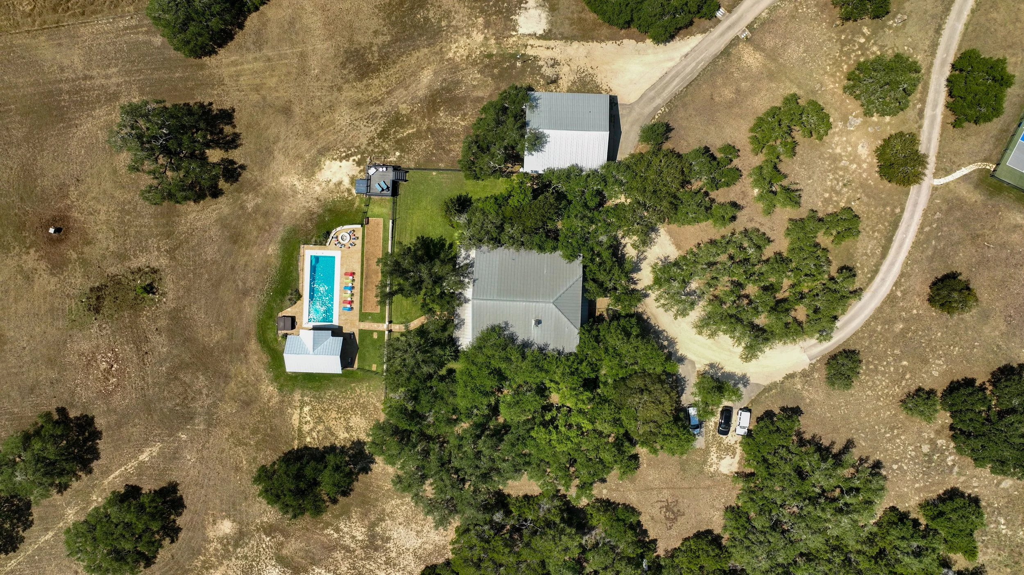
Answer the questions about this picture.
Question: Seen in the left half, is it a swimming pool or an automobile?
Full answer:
Looking in the left half, you will find a swimming pool.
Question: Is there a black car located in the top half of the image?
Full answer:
No, there's no black car to be seen in the top half of the image.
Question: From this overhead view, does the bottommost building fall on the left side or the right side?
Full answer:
You can find the bottommost building on the left side of the picture.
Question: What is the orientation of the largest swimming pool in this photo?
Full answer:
The largest swimming pool is oriented up and down.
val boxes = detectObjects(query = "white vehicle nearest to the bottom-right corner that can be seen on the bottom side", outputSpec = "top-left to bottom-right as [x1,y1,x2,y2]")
[735,406,751,435]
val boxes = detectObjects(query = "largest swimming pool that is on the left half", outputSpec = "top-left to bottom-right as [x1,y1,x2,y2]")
[303,250,341,327]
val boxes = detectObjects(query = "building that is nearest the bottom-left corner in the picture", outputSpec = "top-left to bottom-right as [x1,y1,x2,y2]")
[283,329,345,374]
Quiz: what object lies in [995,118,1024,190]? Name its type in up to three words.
sports court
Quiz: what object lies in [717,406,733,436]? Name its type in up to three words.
car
